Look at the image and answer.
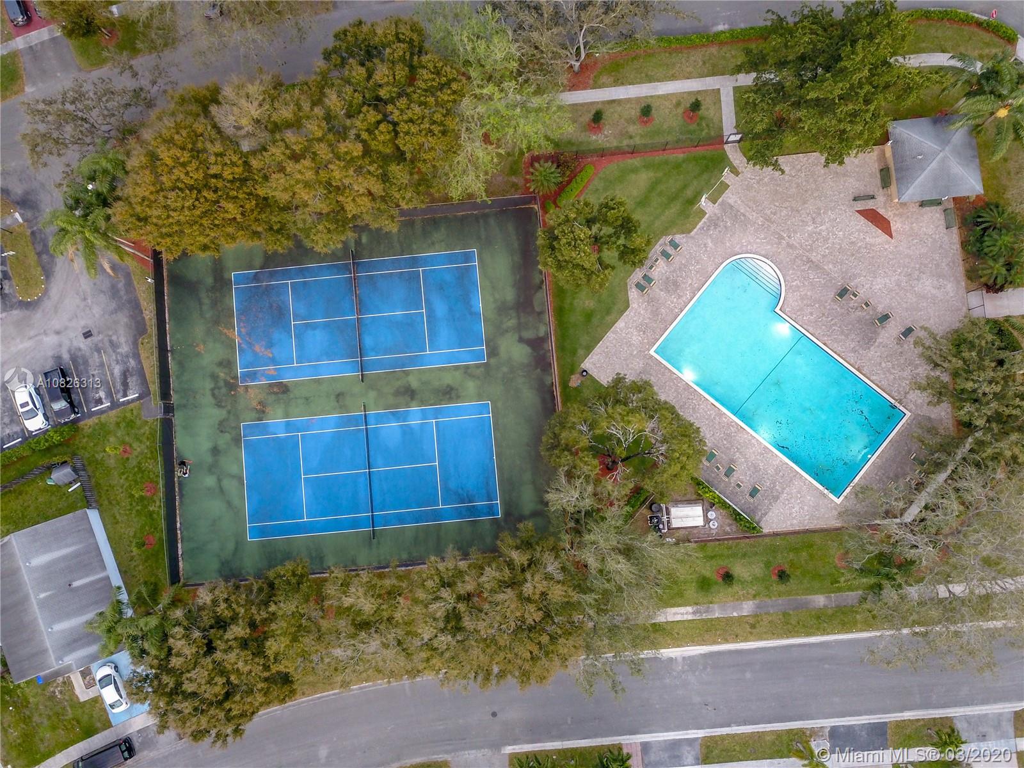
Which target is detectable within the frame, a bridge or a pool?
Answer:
pool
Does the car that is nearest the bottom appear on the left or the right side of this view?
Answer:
left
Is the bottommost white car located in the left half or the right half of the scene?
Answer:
left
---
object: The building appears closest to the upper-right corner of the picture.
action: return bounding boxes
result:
[880,115,984,206]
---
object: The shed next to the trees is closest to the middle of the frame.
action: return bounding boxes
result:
[666,499,709,533]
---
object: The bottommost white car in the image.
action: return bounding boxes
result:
[93,663,128,718]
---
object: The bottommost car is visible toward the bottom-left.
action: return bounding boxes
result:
[76,735,133,768]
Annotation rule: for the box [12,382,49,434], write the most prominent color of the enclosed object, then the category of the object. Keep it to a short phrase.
white car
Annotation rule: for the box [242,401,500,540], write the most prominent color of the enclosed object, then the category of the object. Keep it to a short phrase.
blue tennis court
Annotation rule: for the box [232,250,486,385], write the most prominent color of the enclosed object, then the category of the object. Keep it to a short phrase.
blue tennis court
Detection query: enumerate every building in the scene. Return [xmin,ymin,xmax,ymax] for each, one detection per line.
[51,463,87,484]
[880,115,984,206]
[0,509,136,685]
[666,499,709,533]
